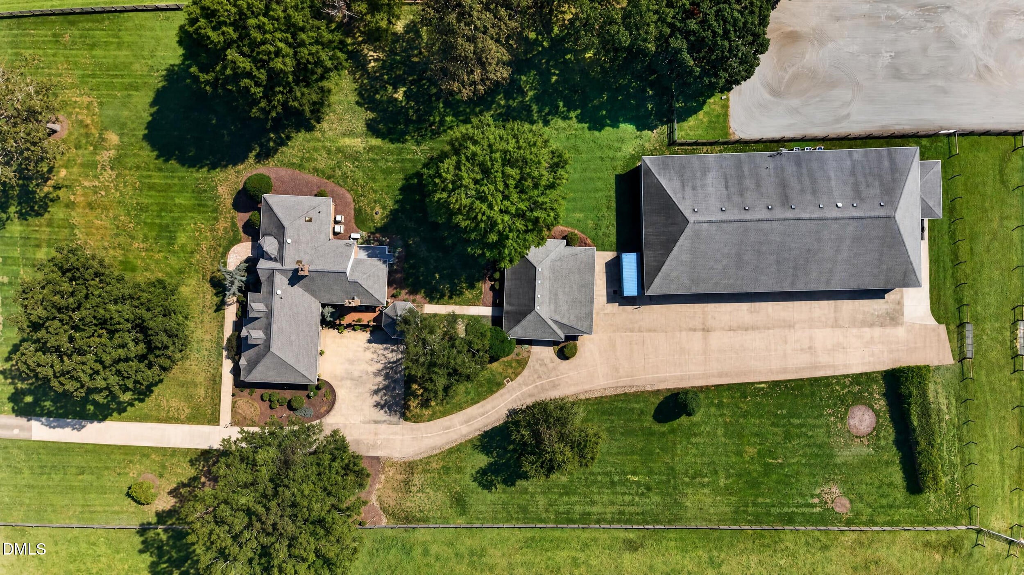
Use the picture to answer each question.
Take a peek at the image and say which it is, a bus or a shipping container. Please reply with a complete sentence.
It is a shipping container that can be seen here.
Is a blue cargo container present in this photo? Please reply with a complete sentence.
Yes, I can see a blue cargo container in this picture.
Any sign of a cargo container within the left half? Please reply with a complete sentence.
No, looking within the left half, there is no cargo container.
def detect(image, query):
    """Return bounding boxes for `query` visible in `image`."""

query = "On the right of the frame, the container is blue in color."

[618,252,645,297]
